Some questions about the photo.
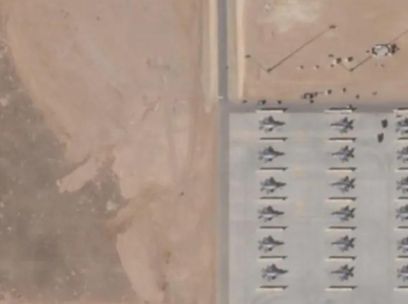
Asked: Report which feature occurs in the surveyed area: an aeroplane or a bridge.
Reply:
aeroplane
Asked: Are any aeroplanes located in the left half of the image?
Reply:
No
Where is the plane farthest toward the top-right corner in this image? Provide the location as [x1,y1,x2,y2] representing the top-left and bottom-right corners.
[395,118,408,134]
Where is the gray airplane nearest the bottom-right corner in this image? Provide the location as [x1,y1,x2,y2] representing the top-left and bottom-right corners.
[394,266,408,281]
